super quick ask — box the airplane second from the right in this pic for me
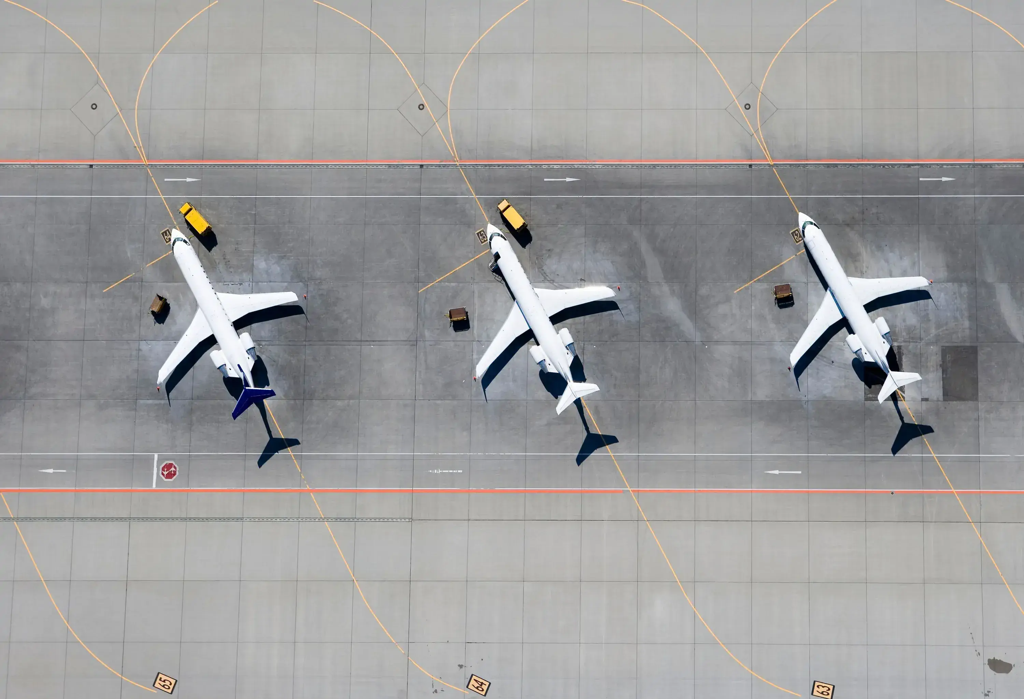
[475,224,617,415]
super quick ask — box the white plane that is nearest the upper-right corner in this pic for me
[790,212,932,404]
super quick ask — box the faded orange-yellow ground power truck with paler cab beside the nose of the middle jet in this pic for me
[496,197,527,231]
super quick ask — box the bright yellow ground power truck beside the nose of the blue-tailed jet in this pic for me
[178,200,213,236]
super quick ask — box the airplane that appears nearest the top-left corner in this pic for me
[157,229,299,420]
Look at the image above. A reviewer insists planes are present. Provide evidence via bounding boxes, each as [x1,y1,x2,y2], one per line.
[790,212,932,404]
[157,229,299,420]
[475,224,617,415]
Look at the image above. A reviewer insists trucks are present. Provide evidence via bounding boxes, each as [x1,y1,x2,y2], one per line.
[496,197,527,231]
[178,200,213,236]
